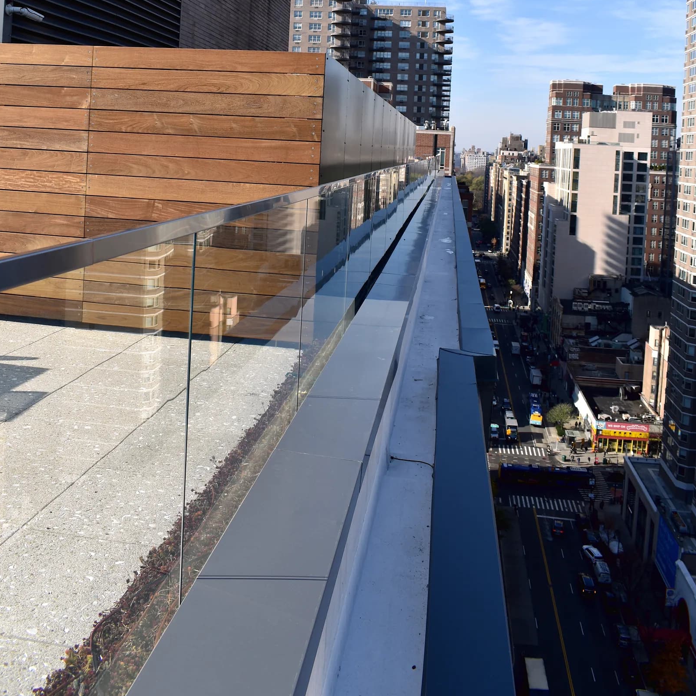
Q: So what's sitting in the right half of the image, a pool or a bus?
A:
bus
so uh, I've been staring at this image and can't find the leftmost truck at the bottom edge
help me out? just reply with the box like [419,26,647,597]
[521,653,551,696]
